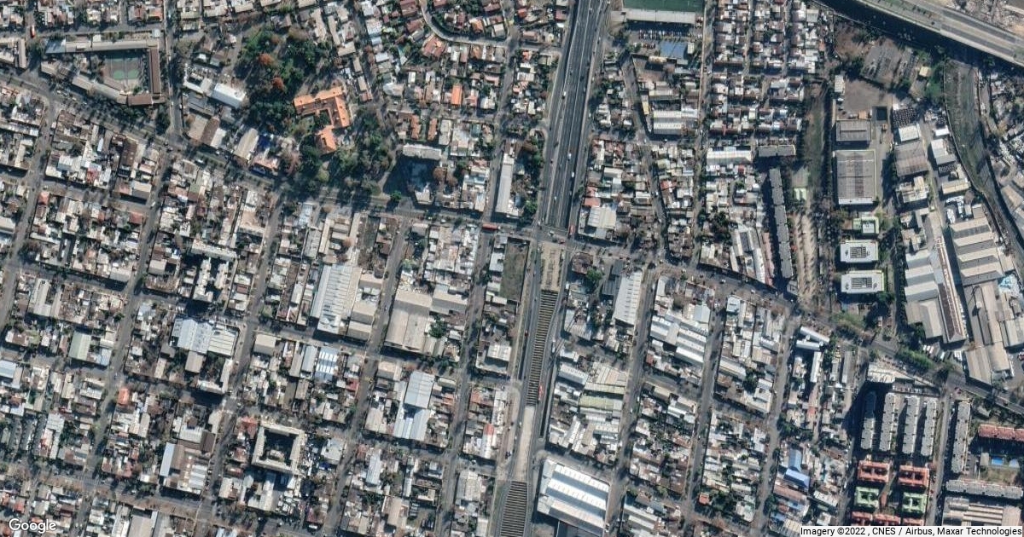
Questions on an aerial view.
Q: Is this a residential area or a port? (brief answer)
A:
residential area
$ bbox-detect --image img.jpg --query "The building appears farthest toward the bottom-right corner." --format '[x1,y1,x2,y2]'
[1002,508,1022,536]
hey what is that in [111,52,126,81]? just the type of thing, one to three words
sports court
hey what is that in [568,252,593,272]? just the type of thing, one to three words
house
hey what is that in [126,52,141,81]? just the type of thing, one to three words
sports court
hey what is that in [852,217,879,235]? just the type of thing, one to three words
building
